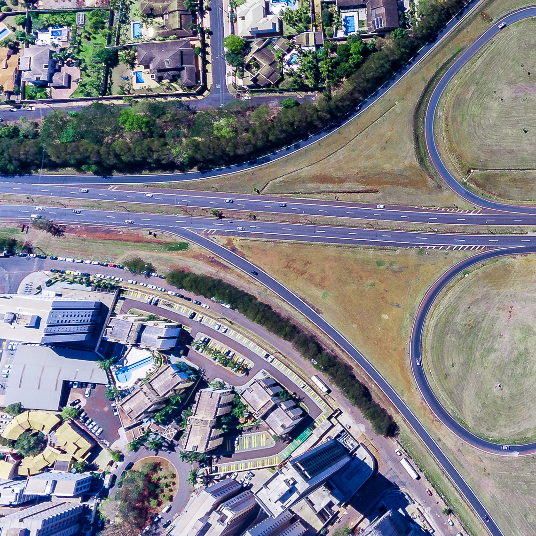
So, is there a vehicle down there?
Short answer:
Yes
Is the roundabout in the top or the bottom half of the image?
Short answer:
bottom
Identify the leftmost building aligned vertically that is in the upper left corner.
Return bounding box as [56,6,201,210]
[0,47,21,93]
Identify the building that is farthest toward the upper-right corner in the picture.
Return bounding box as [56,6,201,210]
[336,0,398,31]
